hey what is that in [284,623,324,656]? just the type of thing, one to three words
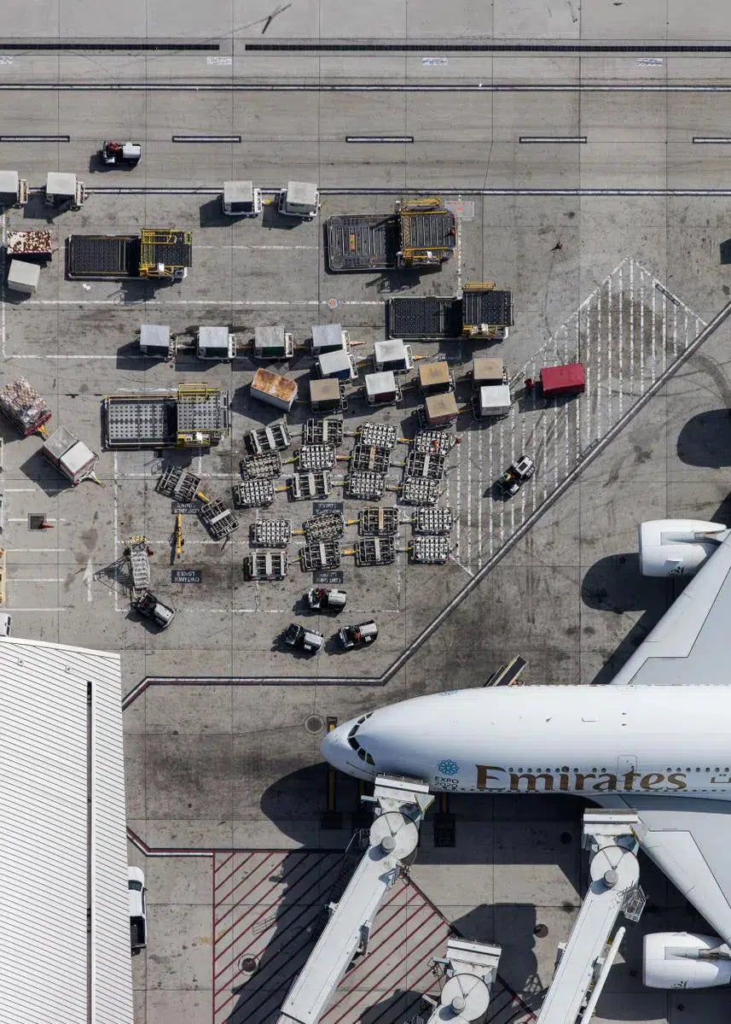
work vehicle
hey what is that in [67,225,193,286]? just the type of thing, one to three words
work vehicle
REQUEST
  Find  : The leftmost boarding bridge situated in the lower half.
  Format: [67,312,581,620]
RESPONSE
[276,776,434,1024]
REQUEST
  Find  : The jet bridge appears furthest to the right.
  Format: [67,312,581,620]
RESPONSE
[526,810,646,1024]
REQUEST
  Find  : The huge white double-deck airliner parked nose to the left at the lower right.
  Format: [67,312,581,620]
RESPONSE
[321,518,731,990]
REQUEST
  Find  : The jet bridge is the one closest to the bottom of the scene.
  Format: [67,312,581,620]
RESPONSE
[421,940,501,1024]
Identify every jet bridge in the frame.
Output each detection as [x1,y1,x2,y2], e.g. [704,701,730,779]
[526,810,646,1024]
[276,776,434,1024]
[421,940,501,1024]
